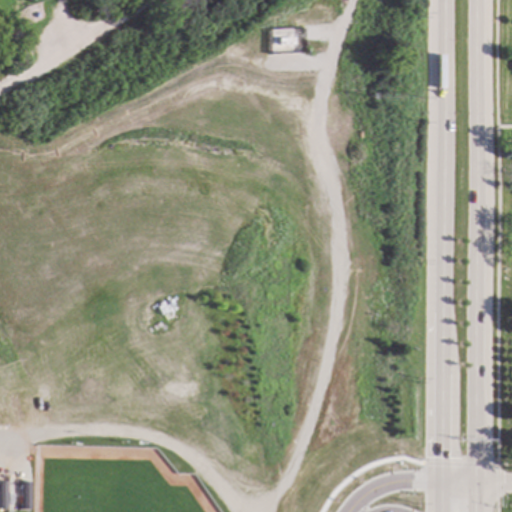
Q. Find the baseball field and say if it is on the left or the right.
left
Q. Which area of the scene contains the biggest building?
top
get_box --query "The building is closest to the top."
[270,27,304,52]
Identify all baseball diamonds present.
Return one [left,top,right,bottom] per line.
[36,445,223,512]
